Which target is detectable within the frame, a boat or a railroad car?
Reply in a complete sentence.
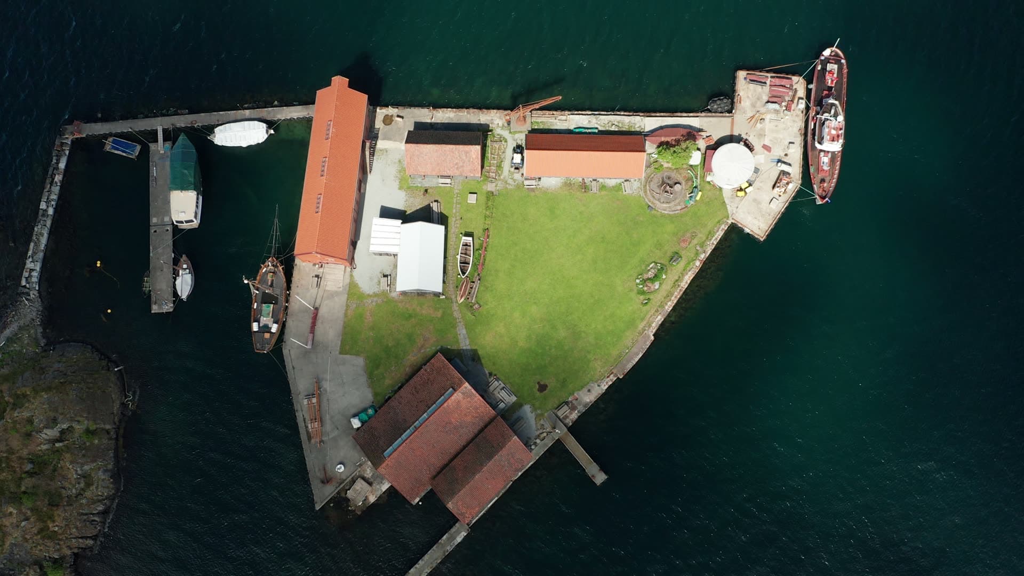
Of the two, only a boat appears.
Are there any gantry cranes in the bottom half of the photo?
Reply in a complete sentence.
No, no gantry crane is visible in the bottom half of the photo.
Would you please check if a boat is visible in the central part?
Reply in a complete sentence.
Yes, a boat appears in the central part.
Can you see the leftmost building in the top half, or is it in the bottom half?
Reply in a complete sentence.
It is in the top half that the leftmost building appears.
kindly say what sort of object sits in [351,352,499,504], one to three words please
building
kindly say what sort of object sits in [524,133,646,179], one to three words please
shed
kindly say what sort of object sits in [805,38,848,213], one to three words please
ship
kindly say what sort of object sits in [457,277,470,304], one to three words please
boat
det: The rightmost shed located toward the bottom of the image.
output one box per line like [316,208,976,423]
[432,417,532,524]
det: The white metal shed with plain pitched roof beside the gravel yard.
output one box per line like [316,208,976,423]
[396,222,445,294]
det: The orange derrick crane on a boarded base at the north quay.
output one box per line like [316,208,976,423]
[502,95,562,133]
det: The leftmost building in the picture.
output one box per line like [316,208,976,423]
[294,75,370,266]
